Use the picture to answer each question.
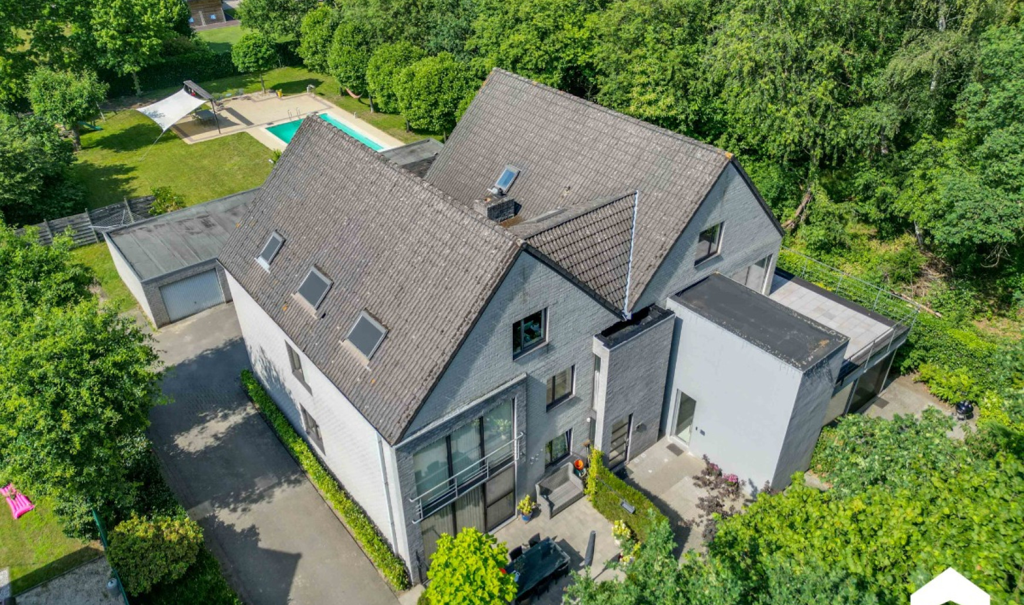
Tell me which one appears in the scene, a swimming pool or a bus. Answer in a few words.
swimming pool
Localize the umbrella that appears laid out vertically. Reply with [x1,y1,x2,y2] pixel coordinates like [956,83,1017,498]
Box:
[585,519,600,568]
